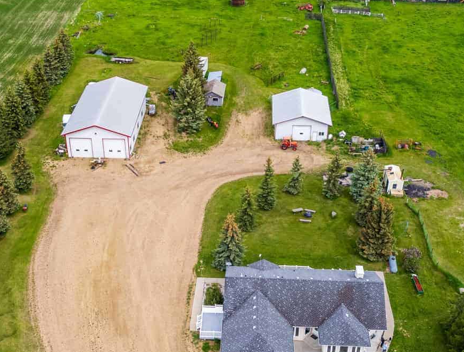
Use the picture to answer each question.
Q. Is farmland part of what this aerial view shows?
Yes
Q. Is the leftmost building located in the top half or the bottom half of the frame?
top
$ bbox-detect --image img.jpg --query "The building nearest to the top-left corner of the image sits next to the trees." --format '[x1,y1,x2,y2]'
[63,78,145,158]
